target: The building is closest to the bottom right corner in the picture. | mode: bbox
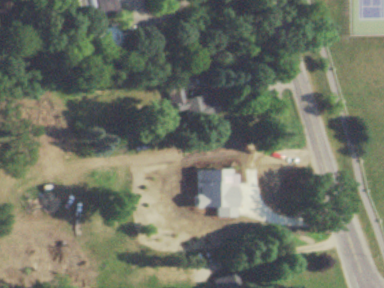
[216,272,242,288]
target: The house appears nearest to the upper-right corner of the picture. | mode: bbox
[170,86,216,118]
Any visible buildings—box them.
[92,0,124,16]
[197,168,244,219]
[216,272,242,288]
[170,86,216,118]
